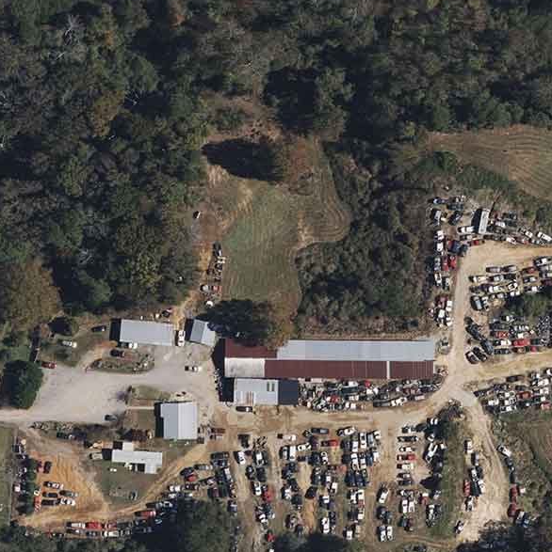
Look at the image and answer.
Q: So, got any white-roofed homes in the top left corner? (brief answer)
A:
No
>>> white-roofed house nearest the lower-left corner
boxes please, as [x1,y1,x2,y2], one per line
[112,443,162,474]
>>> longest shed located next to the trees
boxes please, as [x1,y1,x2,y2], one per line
[225,339,437,379]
